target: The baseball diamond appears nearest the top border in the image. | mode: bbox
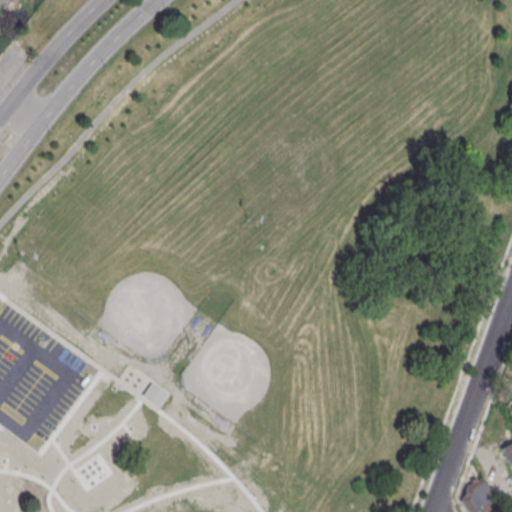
[98,272,198,360]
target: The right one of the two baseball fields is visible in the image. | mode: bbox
[182,326,271,423]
